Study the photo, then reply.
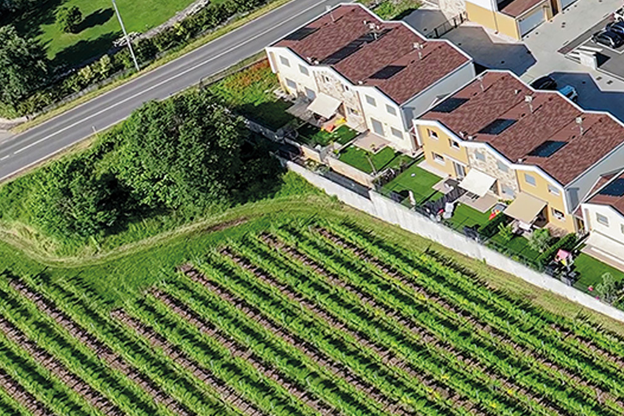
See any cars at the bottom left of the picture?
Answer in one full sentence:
No, no car is visible at the bottom left of the picture.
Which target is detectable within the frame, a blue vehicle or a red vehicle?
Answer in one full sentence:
The image shows a blue vehicle.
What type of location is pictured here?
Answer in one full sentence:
It's a residential area.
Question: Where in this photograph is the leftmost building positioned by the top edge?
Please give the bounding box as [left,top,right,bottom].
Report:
[267,2,490,149]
